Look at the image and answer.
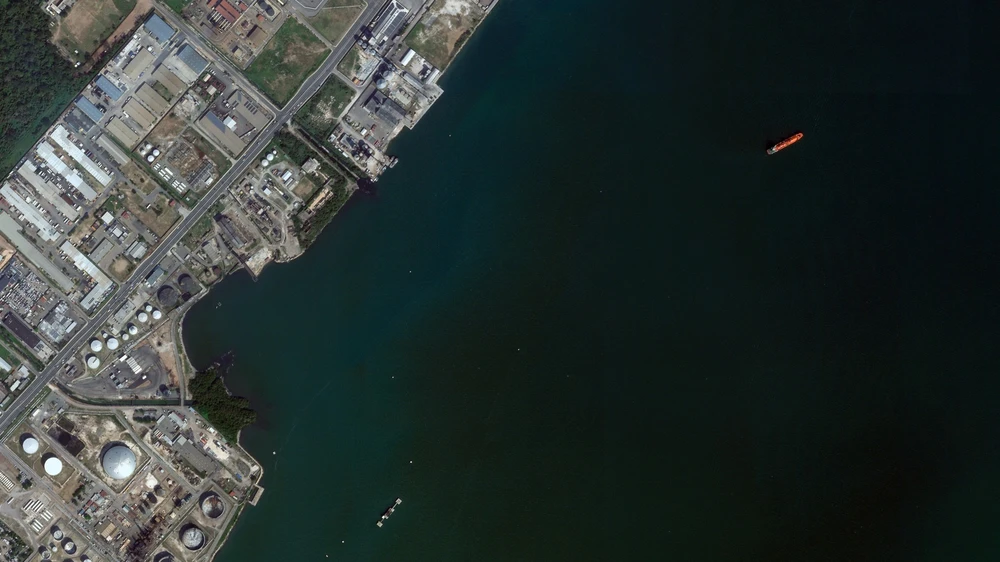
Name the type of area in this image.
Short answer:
port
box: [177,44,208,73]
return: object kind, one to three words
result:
building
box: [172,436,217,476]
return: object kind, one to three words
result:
building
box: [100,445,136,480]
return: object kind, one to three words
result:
storage tank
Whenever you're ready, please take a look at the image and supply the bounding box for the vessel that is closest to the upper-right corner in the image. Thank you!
[767,133,803,155]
